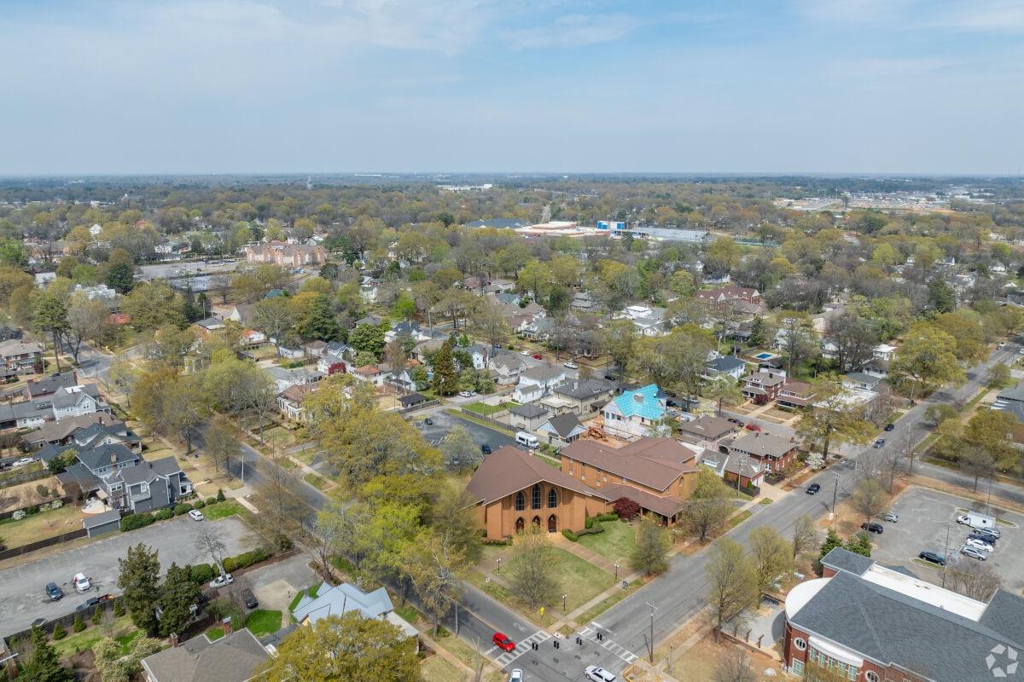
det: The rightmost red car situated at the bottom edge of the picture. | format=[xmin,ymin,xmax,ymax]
[492,631,517,652]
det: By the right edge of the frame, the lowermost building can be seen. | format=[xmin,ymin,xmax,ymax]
[774,545,1024,682]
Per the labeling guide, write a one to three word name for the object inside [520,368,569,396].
house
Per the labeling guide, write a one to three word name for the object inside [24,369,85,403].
house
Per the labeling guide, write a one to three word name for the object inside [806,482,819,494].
vehicle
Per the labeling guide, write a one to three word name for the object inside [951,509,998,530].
truck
